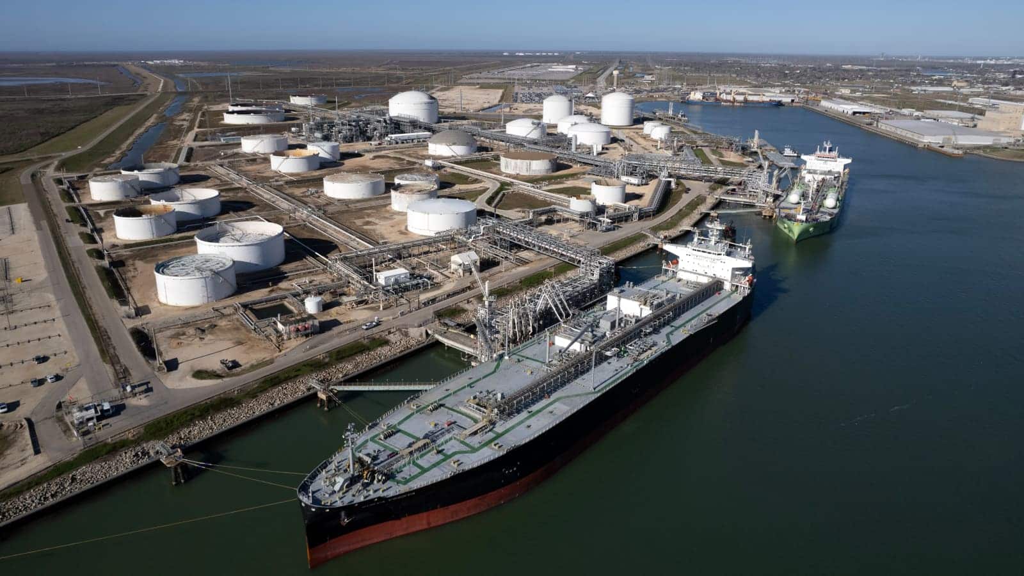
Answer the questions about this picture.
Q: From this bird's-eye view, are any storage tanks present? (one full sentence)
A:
Yes, the frame does contain a storage tank.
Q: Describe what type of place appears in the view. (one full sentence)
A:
This looks like a port.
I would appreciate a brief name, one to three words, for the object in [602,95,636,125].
storage tank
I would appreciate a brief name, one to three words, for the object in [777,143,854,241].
ship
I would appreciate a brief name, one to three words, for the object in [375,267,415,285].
building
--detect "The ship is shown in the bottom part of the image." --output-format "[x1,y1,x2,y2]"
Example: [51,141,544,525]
[296,219,768,569]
